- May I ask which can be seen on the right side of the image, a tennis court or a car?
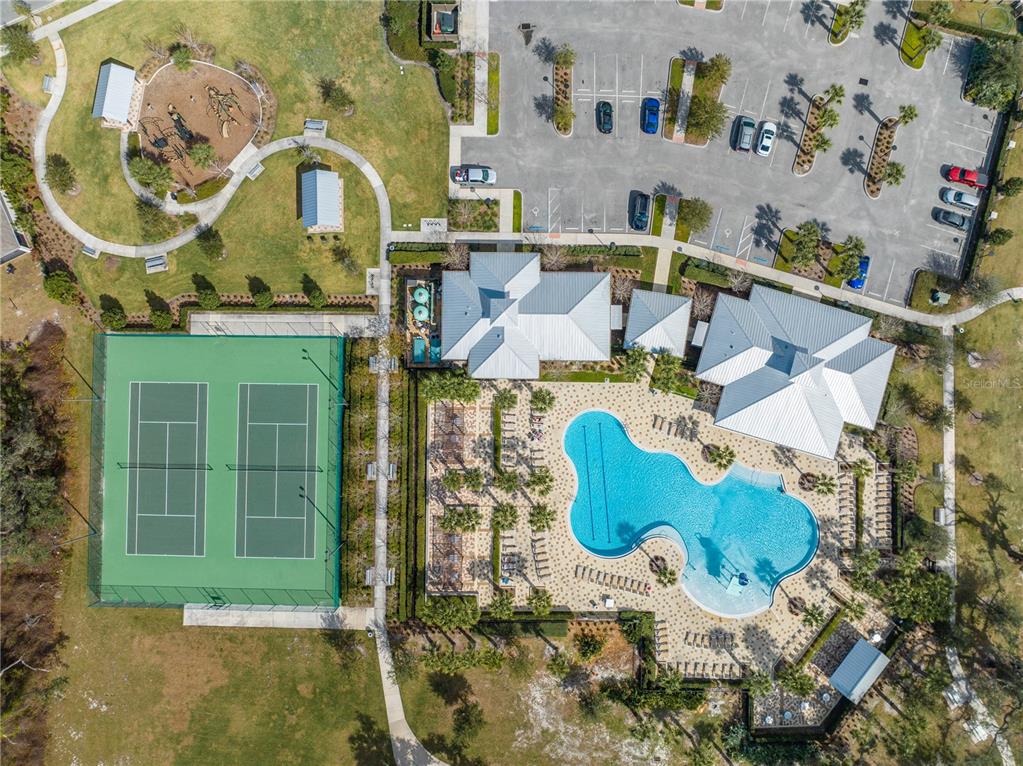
car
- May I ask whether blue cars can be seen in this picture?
Yes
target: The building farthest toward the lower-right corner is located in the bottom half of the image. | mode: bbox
[822,634,889,702]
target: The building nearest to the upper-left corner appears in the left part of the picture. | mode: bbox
[92,62,144,128]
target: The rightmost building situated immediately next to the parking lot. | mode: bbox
[694,285,897,458]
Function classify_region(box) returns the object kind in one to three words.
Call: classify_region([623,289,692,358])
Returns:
building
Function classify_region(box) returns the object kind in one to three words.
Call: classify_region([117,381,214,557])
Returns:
tennis court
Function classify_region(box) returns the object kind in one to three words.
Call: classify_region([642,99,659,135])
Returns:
car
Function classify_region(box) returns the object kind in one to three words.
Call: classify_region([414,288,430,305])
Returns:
umbrella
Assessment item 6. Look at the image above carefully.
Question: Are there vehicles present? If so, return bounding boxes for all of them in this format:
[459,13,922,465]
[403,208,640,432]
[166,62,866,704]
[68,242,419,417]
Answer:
[931,209,969,231]
[632,193,650,231]
[734,115,755,155]
[596,100,613,137]
[846,256,869,291]
[941,188,981,209]
[452,167,497,186]
[756,122,776,159]
[642,99,659,135]
[944,167,989,188]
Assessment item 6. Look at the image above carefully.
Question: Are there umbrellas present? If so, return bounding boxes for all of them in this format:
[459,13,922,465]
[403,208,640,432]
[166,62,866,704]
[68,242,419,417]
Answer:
[414,306,430,323]
[414,288,430,305]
